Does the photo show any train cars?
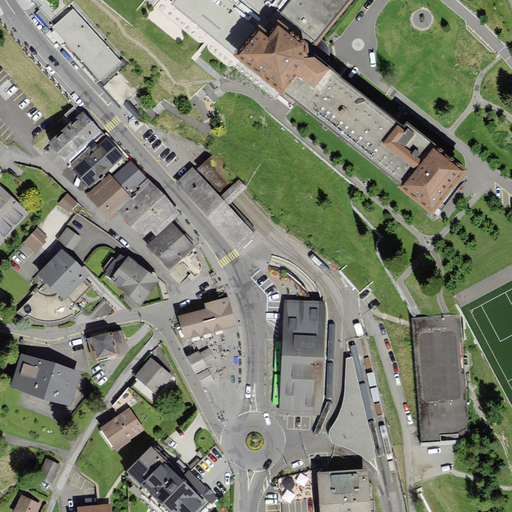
Yes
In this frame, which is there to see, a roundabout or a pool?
roundabout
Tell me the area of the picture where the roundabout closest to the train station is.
bottom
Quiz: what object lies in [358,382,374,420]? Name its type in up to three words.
rail car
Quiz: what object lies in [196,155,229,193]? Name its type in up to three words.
building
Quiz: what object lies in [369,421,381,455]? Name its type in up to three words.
rail car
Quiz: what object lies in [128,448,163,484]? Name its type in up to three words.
house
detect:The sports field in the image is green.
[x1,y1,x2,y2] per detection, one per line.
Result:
[456,280,512,407]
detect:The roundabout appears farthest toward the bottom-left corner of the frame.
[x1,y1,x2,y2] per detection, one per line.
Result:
[227,413,282,468]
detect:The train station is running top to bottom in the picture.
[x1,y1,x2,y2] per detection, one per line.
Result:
[280,300,325,415]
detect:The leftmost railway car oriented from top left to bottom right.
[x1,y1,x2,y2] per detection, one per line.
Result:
[308,252,330,274]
